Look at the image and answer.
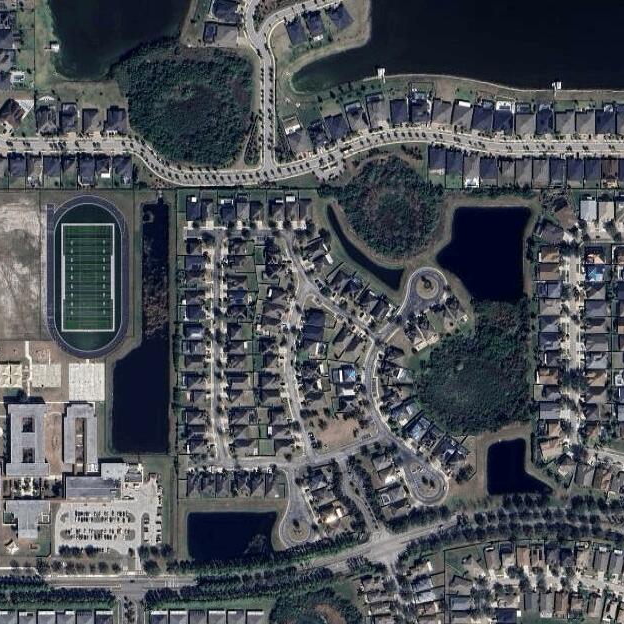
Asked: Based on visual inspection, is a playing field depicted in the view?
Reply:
Yes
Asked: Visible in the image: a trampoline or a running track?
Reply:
running track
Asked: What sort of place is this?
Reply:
residential area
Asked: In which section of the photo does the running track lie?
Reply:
left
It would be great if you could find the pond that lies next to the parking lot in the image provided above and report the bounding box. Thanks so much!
[187,512,279,560]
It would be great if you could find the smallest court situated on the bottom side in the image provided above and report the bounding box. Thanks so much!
[31,364,62,387]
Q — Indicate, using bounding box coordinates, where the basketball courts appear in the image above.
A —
[31,364,62,387]
[70,363,104,401]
